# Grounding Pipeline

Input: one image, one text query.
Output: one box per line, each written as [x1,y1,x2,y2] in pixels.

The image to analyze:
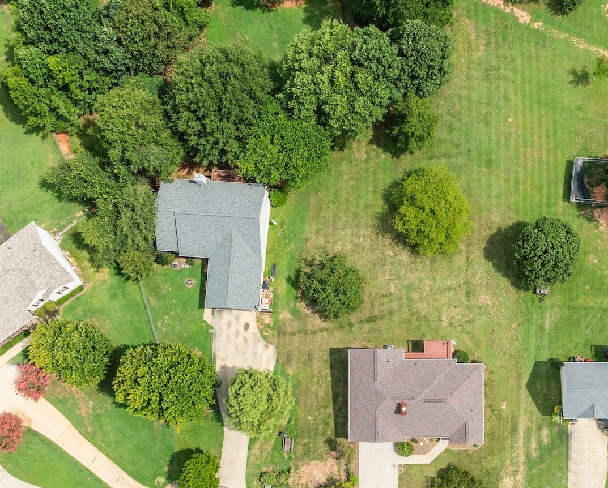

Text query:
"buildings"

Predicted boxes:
[560,362,608,419]
[153,173,268,312]
[348,348,484,446]
[0,221,81,348]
